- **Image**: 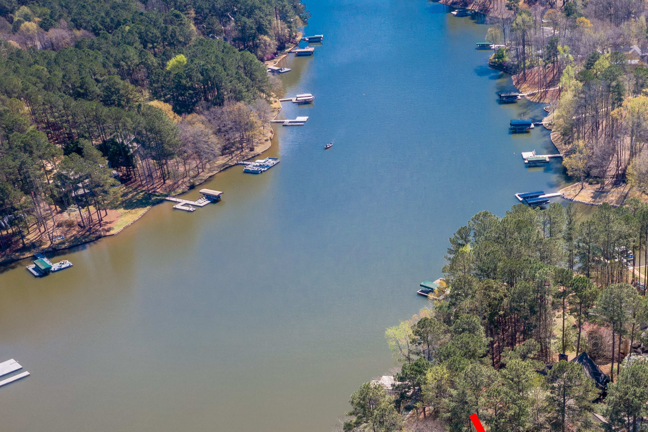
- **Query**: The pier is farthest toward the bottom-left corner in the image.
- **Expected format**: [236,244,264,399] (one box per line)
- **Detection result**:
[0,360,30,386]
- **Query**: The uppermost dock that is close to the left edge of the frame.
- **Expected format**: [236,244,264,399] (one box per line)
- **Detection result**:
[25,253,73,278]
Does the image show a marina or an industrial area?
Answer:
marina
